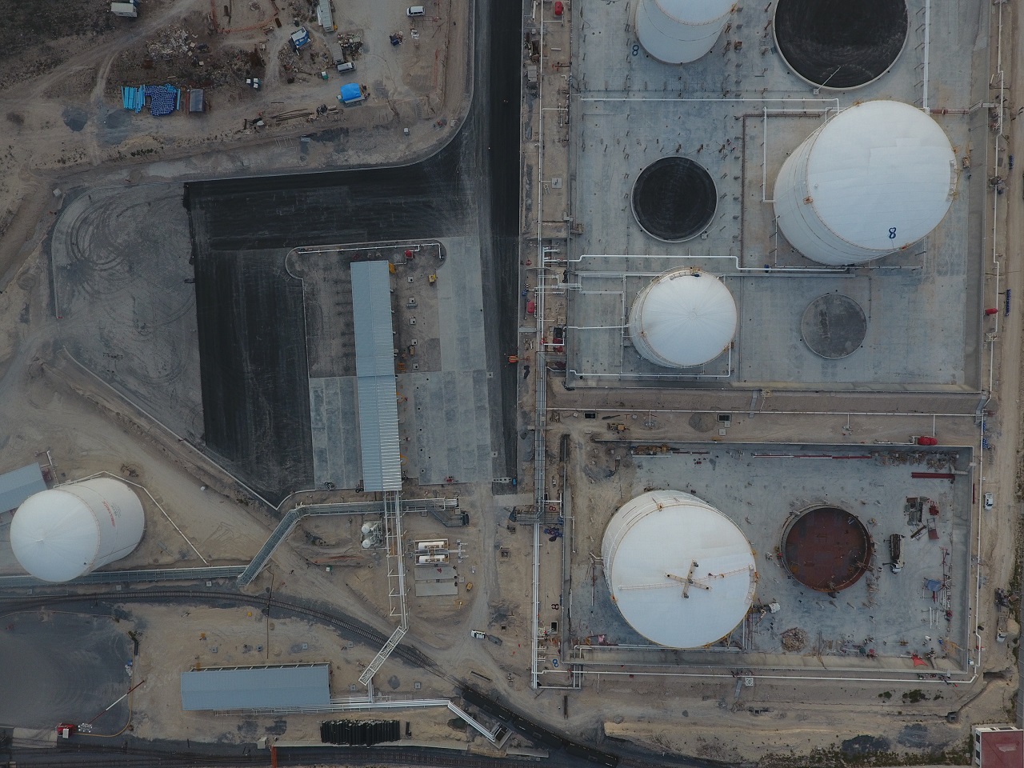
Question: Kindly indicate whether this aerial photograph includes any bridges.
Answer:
Yes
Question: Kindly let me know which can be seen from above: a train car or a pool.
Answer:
train car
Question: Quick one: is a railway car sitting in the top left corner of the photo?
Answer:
No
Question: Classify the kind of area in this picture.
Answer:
industrial area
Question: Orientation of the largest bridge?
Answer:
at an angle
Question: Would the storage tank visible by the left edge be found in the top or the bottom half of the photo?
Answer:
bottom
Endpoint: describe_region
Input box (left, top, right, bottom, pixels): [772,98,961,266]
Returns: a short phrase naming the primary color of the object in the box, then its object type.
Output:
white storage tank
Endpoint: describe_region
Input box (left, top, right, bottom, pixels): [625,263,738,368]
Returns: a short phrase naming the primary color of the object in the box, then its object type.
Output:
white storage tank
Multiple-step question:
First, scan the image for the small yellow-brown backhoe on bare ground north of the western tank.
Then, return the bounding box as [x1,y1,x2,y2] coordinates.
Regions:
[118,463,141,483]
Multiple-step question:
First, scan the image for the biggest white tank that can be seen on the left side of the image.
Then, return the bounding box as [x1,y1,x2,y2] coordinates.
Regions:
[6,477,148,582]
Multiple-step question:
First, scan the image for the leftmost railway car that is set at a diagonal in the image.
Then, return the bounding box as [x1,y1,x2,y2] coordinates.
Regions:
[460,686,513,729]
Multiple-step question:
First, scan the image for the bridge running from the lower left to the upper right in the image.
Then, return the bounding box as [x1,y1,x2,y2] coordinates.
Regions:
[359,620,412,686]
